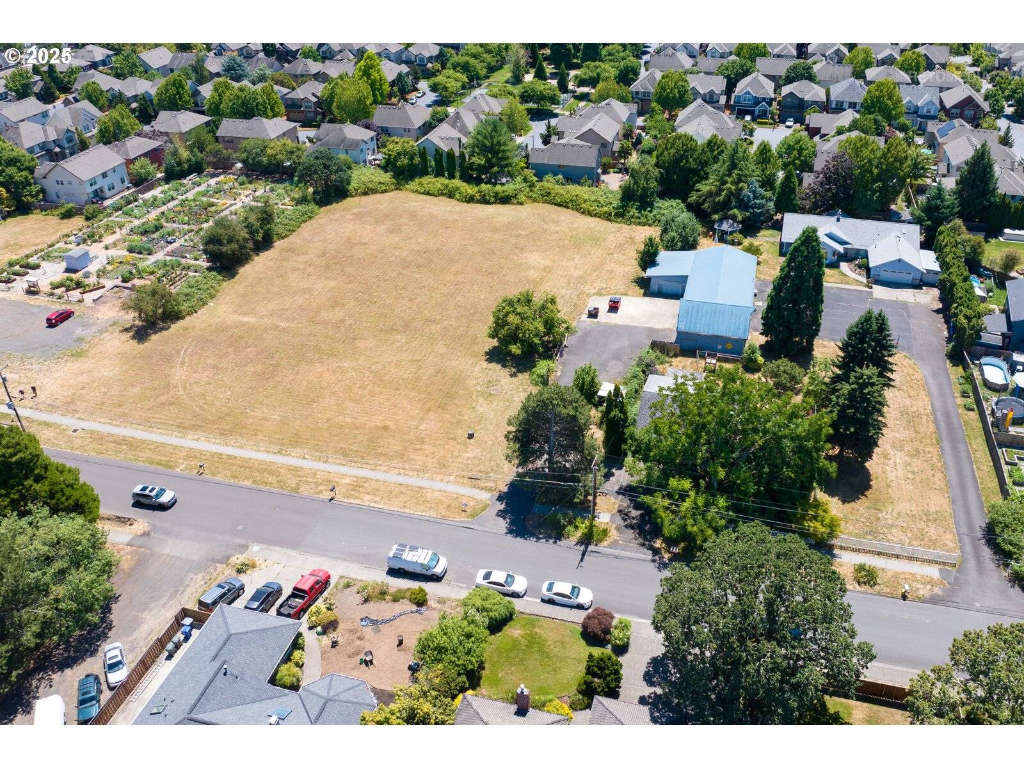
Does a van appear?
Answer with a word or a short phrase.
Yes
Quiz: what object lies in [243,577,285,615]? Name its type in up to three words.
car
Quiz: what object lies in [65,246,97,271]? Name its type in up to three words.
shed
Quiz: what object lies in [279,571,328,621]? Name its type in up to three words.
truck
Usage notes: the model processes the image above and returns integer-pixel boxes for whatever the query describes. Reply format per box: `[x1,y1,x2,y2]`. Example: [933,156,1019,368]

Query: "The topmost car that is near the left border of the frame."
[42,309,76,326]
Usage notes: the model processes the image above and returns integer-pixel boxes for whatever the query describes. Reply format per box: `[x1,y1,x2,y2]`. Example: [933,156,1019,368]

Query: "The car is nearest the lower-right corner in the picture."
[540,582,594,610]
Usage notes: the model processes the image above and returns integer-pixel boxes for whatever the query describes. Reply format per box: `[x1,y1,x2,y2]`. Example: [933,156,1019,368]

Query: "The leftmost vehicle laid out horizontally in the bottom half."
[129,482,177,508]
